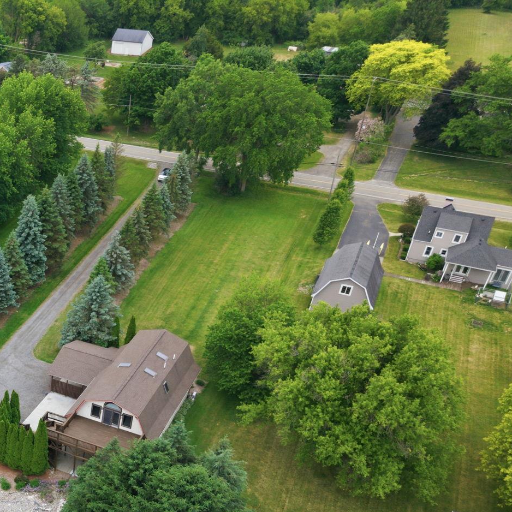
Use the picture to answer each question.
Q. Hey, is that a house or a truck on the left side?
house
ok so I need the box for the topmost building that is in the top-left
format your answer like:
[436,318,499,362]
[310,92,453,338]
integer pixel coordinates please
[110,27,156,56]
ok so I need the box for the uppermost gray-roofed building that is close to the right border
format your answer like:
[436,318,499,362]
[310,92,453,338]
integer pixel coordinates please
[406,191,512,289]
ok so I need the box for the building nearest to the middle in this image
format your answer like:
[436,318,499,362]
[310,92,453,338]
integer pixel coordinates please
[311,242,388,312]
